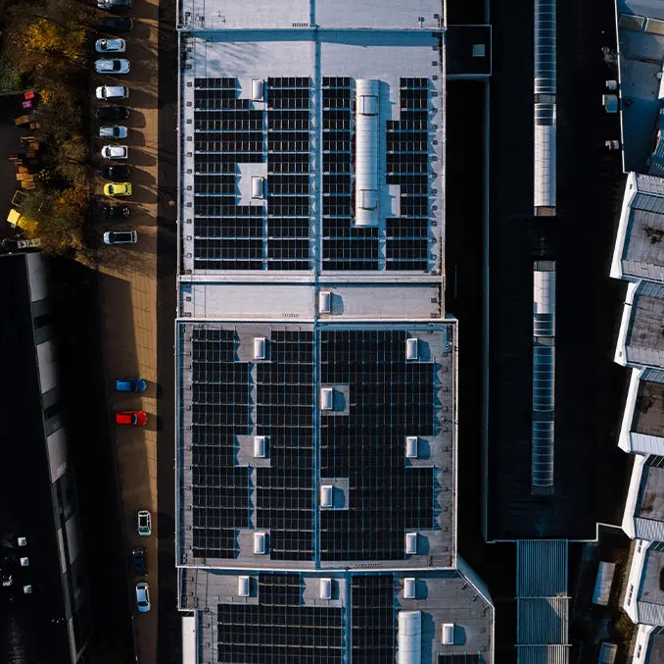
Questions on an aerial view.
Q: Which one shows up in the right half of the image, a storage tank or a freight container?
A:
freight container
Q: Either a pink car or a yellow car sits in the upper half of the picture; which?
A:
yellow car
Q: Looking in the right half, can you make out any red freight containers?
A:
No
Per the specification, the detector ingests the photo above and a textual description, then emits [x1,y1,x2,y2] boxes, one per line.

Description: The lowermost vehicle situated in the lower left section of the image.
[134,577,152,612]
